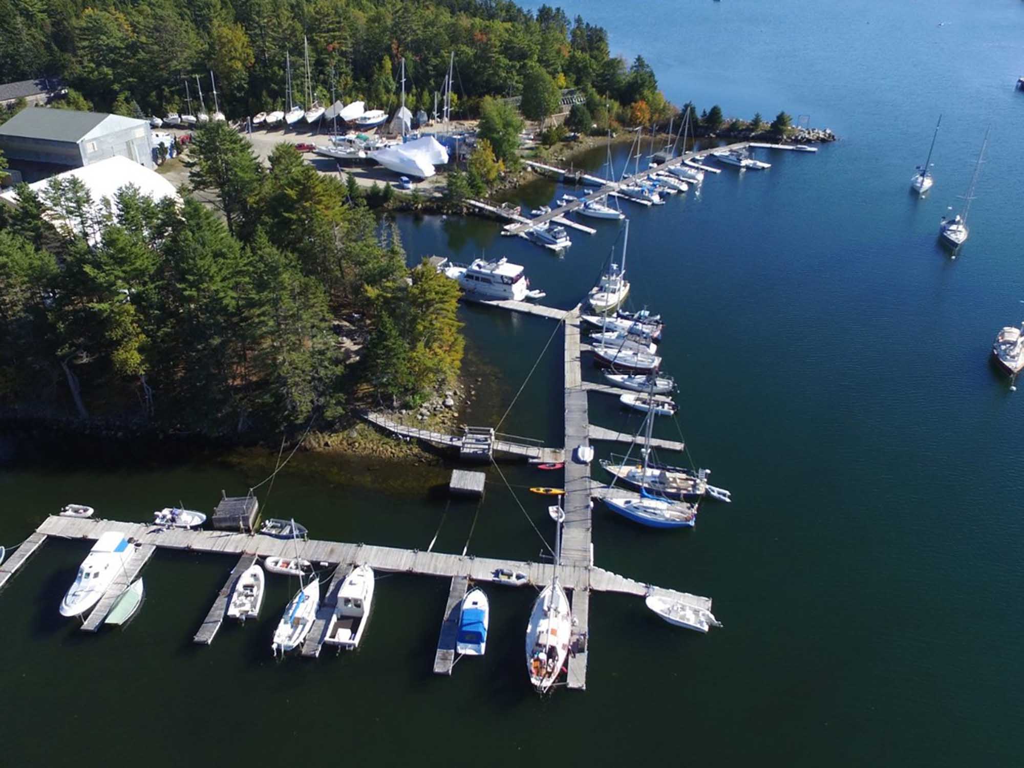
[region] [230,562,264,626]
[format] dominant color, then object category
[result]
white boat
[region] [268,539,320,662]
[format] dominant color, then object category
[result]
white boat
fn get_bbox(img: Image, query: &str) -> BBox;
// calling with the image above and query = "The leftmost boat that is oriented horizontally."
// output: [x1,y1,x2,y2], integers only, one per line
[59,503,93,517]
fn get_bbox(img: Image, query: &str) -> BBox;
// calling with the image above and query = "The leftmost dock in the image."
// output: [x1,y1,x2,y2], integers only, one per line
[0,533,48,592]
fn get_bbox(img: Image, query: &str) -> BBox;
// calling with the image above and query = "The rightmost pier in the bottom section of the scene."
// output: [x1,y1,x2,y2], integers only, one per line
[646,586,712,614]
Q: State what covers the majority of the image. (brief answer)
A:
water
